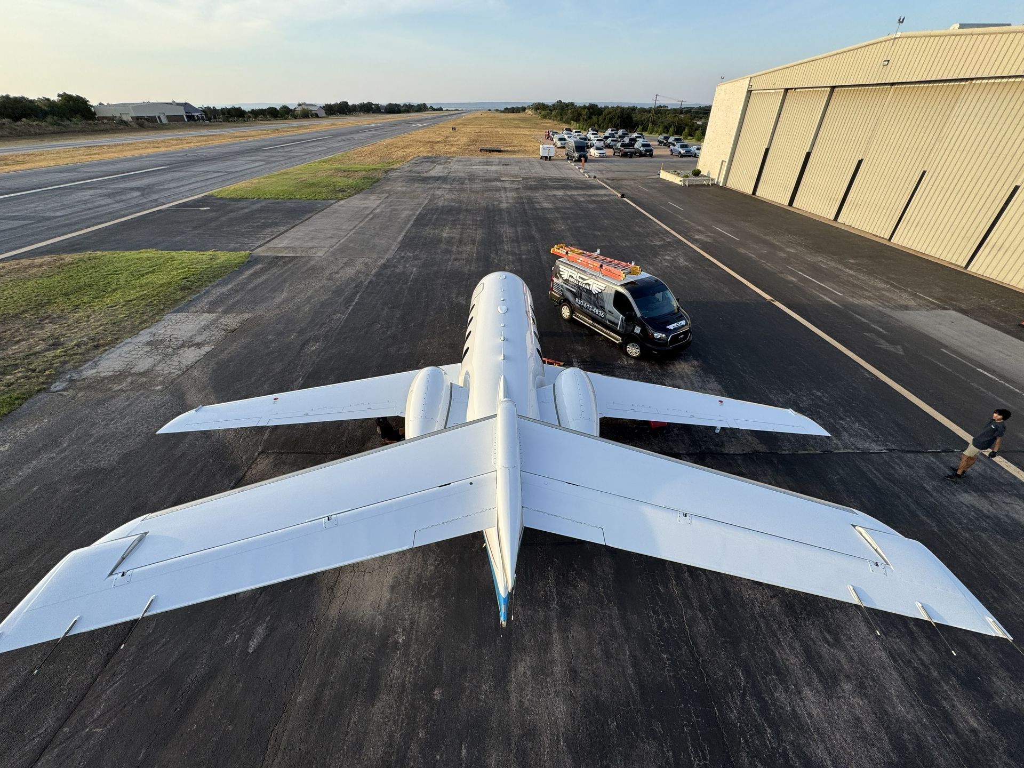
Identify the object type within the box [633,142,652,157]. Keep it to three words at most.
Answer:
car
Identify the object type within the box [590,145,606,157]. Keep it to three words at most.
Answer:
vehicle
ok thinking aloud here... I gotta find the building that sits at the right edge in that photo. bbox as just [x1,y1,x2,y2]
[689,13,1024,288]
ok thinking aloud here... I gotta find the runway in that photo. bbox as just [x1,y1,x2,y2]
[0,110,484,254]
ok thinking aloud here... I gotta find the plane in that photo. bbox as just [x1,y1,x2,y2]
[0,268,1024,680]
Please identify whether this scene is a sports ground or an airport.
airport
